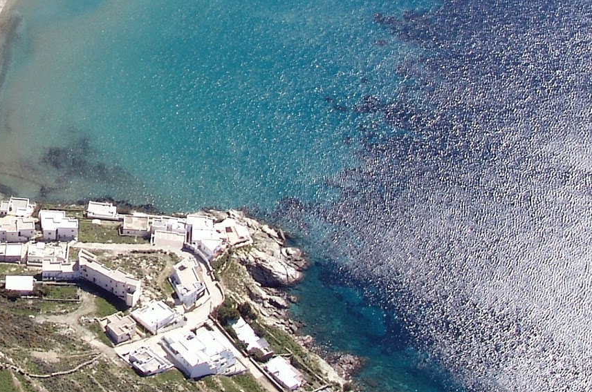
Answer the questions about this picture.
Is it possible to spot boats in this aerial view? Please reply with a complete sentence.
No, the picture doesn't show any boat.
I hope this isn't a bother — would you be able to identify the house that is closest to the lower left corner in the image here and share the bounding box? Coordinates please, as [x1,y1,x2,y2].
[4,275,35,296]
